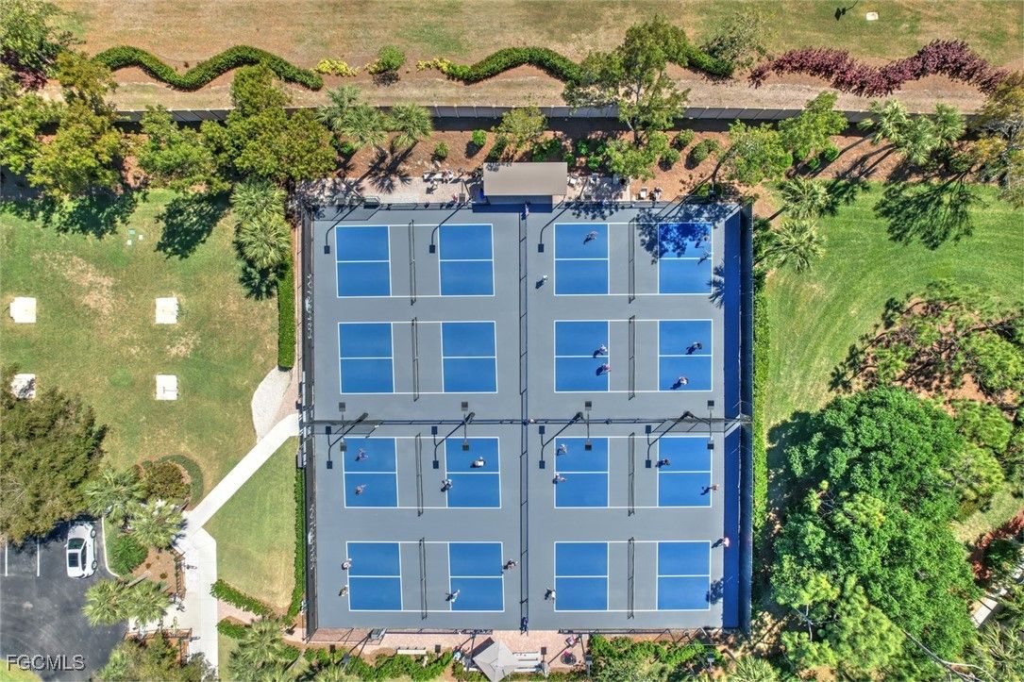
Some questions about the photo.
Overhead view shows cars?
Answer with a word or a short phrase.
Yes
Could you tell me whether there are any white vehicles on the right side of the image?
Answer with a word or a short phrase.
No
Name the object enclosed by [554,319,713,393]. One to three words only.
sports court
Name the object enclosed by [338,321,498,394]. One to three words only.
sports court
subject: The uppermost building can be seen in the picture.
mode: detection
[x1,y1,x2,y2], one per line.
[483,161,569,200]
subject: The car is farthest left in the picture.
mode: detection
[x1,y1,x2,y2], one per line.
[65,523,95,579]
